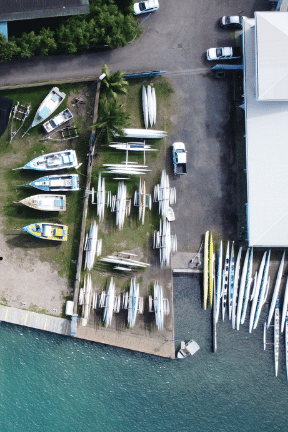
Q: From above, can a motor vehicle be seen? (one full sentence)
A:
Yes, I can see a motor vehicle in this picture.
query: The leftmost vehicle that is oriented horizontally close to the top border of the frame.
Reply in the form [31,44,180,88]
[132,0,160,15]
